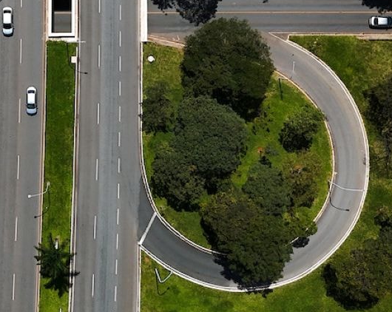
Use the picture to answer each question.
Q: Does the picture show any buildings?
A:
No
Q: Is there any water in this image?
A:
No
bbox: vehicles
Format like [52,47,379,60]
[25,86,38,115]
[0,7,14,36]
[369,15,392,29]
